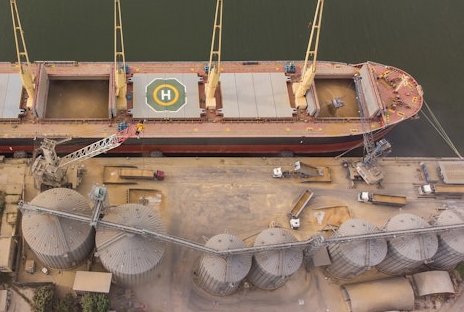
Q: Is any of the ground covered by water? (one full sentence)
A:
Yes, water shows up in the scene.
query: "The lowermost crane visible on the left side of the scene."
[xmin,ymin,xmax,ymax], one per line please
[23,122,146,185]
